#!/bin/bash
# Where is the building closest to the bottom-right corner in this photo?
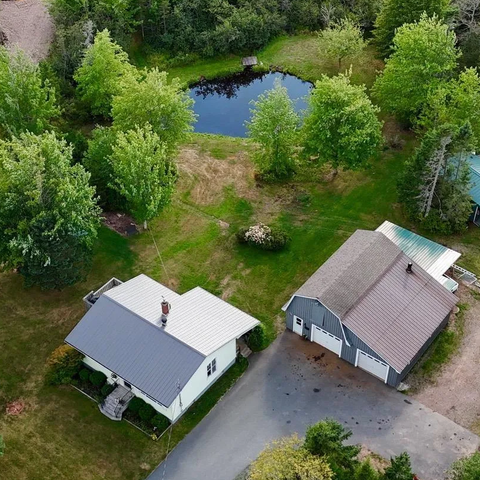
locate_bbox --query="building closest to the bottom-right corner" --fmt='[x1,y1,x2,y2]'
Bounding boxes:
[281,231,458,387]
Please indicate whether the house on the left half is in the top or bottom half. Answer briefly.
bottom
